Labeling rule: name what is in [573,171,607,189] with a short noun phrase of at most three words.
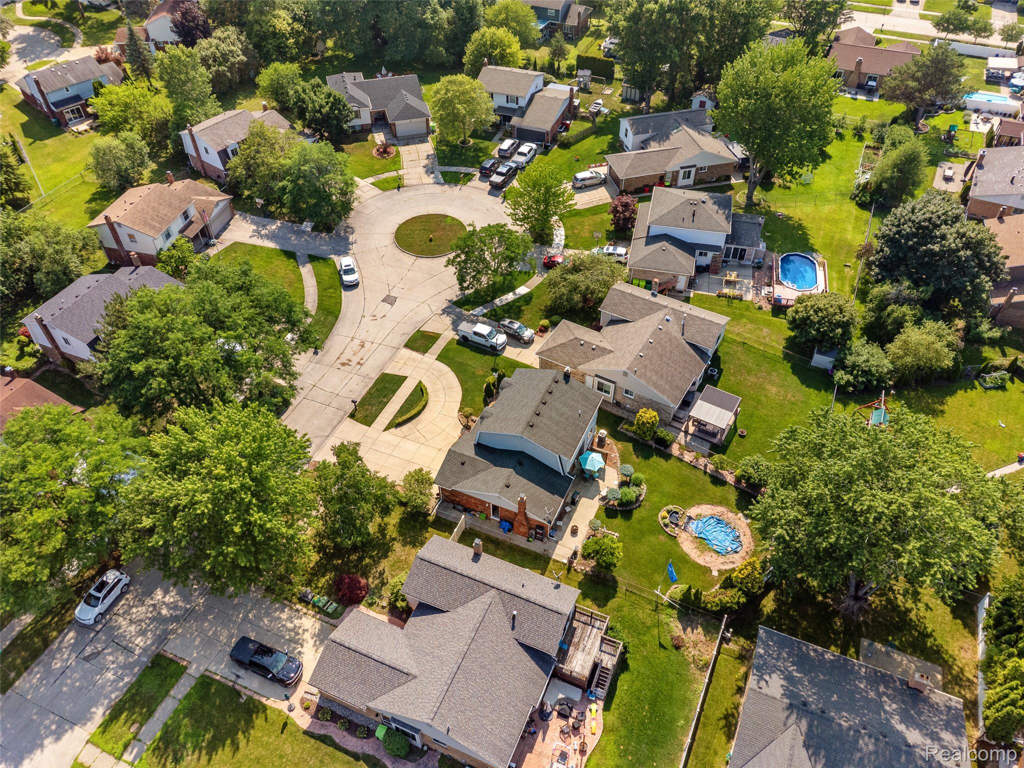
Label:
car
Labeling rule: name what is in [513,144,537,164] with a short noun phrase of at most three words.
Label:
vehicle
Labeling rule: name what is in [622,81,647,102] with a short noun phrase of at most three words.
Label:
shed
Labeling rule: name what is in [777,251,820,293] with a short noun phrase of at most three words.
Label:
swimming pool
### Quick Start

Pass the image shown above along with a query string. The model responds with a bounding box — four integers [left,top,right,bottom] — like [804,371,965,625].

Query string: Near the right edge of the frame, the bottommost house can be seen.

[728,625,980,768]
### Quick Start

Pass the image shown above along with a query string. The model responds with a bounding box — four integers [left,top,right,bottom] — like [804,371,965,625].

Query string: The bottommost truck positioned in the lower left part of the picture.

[226,645,302,693]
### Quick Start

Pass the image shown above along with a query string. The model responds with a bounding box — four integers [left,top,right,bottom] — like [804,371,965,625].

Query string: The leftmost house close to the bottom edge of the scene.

[307,529,582,768]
